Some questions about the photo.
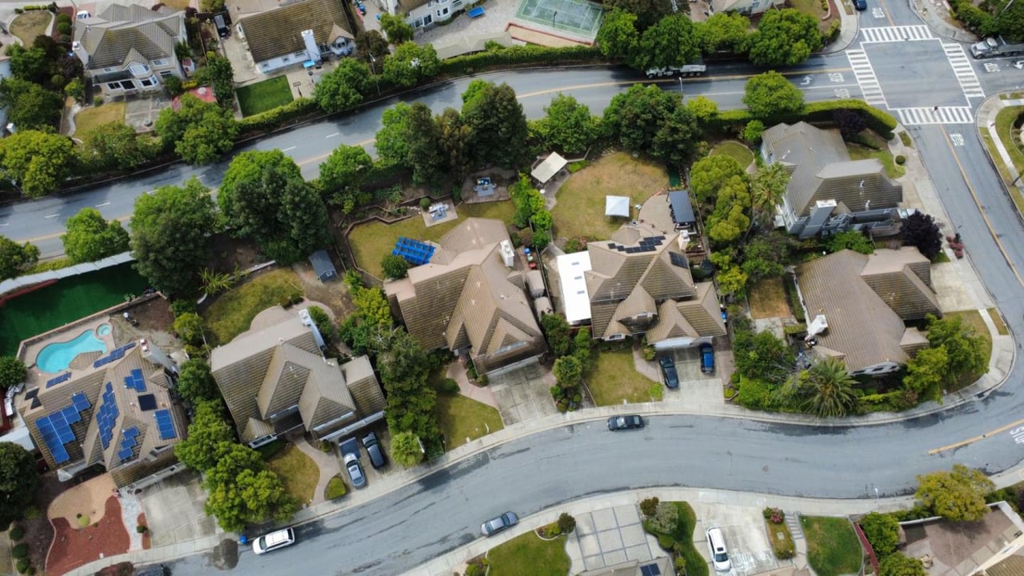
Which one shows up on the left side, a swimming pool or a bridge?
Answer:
swimming pool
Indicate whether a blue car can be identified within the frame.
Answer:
Yes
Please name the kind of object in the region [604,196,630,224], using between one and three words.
tent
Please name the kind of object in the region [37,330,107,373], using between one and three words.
swimming pool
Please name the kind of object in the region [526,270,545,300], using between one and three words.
shed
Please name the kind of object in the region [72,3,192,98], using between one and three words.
house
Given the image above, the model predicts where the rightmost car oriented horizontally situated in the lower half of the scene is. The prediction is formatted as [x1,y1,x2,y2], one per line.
[607,414,645,432]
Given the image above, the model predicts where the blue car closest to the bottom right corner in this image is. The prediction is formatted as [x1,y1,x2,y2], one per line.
[700,344,716,375]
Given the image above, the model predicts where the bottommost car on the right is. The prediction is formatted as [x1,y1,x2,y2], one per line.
[705,527,730,571]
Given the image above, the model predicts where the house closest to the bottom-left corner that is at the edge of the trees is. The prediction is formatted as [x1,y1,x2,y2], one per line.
[17,337,189,490]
